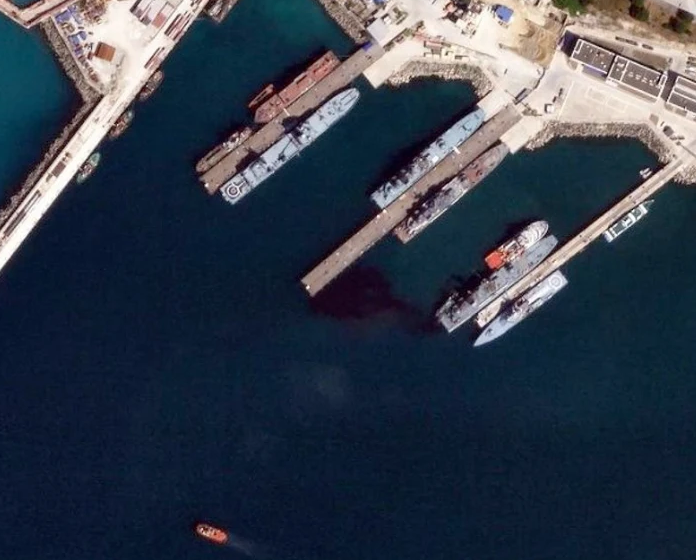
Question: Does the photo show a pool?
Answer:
No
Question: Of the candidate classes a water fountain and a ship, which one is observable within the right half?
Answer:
ship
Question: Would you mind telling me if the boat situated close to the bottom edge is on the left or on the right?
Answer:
left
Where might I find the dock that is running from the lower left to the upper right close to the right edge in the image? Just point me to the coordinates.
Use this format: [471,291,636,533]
[475,158,687,326]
